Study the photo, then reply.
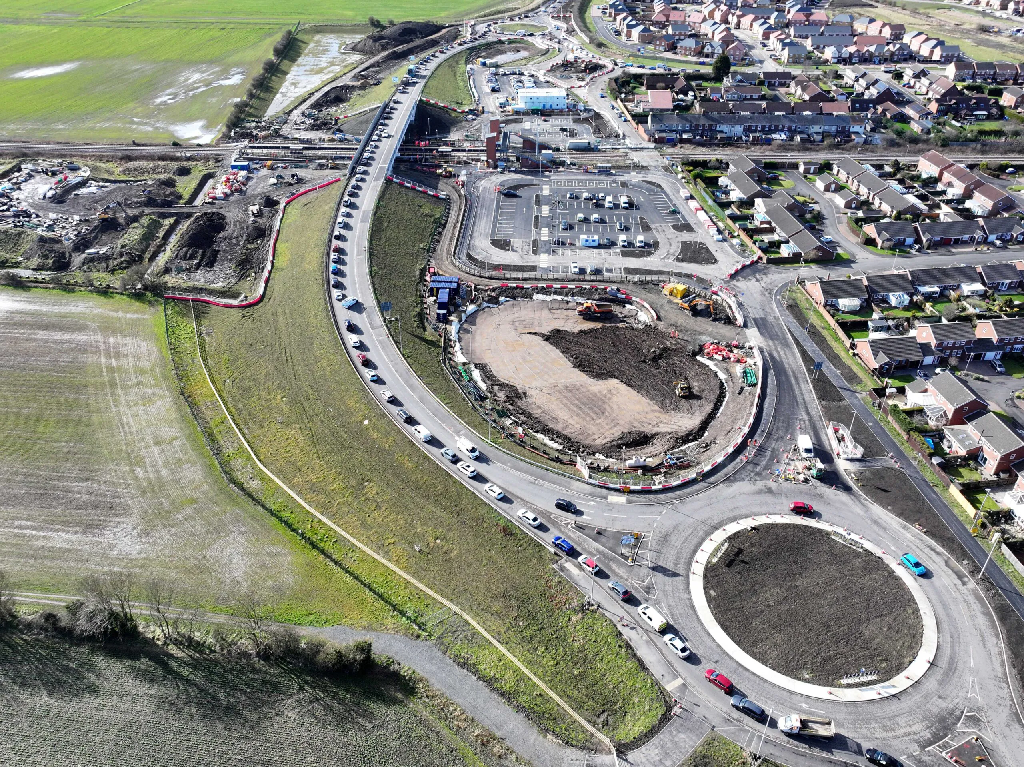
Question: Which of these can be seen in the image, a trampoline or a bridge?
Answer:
bridge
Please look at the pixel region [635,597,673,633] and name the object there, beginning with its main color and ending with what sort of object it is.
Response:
white van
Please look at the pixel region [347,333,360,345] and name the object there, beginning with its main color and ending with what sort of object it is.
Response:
white vehicle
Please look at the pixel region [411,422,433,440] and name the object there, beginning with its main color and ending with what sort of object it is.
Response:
white vehicle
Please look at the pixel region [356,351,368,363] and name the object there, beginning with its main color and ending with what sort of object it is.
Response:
red vehicle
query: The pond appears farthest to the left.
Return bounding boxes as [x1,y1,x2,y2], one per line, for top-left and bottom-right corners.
[284,34,358,96]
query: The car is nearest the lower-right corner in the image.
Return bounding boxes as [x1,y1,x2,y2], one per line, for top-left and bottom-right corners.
[865,742,909,767]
